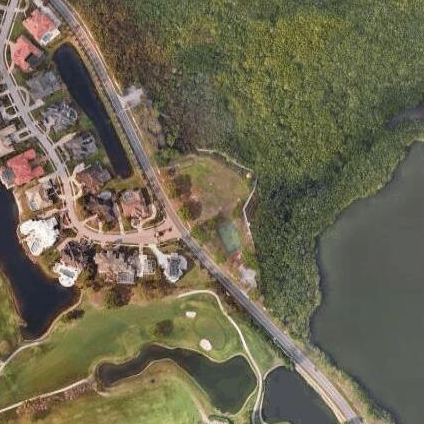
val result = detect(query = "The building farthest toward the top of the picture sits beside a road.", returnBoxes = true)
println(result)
[20,5,59,41]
